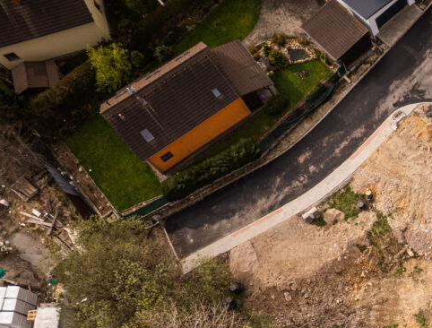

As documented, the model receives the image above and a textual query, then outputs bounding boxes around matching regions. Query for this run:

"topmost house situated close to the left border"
[0,0,117,68]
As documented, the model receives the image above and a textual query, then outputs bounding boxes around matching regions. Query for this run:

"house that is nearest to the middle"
[101,30,275,181]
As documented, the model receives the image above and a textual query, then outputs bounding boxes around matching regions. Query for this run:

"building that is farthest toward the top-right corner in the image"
[350,0,419,35]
